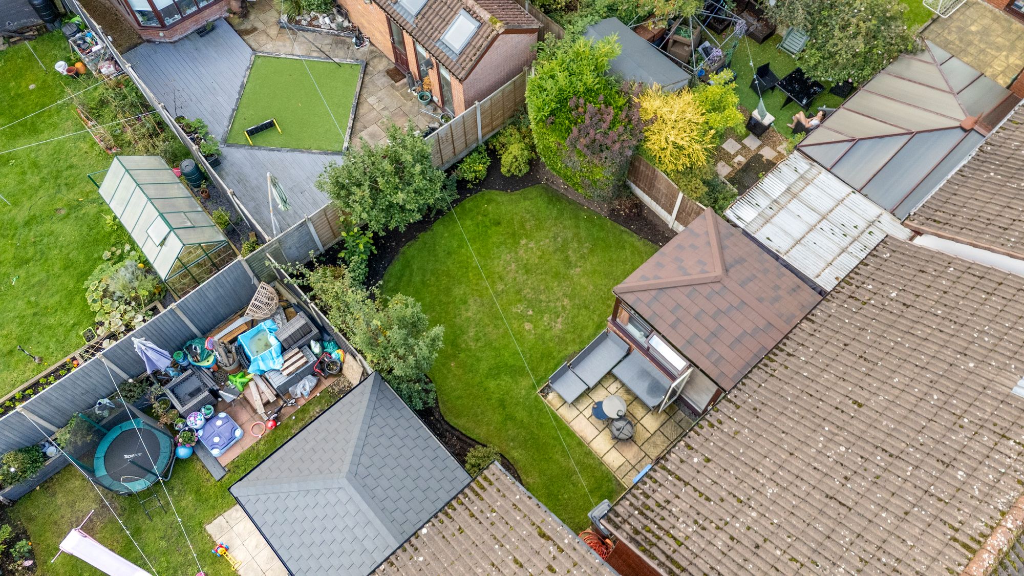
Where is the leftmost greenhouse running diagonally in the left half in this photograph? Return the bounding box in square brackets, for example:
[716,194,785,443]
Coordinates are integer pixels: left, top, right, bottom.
[87,154,248,300]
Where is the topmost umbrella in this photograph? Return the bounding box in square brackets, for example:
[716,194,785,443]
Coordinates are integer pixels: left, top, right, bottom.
[262,170,301,242]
